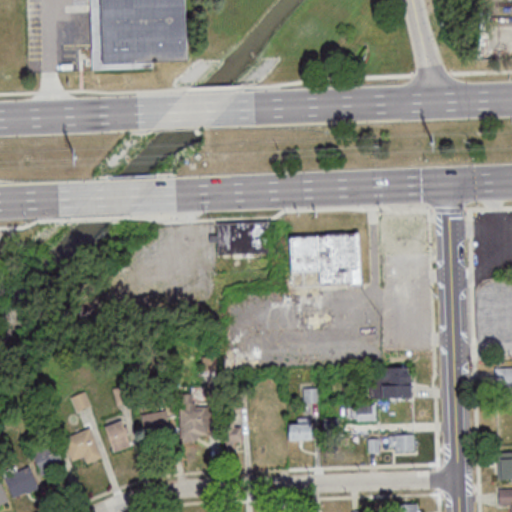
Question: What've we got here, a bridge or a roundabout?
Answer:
bridge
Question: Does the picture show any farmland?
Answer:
No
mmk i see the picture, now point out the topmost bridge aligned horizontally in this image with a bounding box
[136,86,254,133]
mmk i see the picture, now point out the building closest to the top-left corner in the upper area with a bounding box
[90,0,188,71]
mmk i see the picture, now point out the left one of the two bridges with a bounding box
[58,174,176,228]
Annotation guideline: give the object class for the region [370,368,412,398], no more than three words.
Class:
house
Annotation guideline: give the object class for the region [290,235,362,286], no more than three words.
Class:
building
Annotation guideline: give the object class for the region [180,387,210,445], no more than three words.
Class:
house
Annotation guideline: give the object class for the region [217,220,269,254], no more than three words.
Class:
building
